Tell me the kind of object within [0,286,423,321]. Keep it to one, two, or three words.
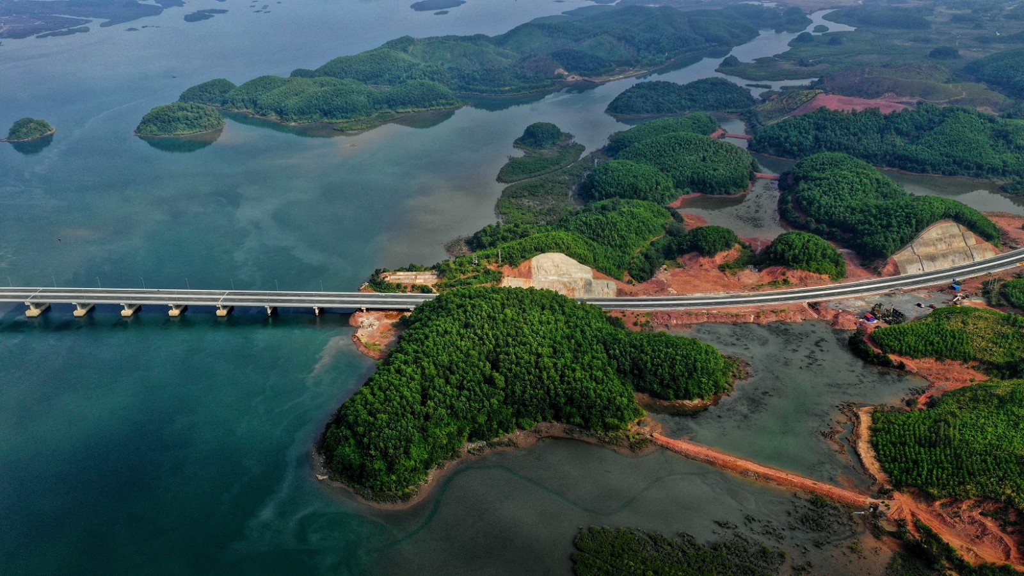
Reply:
bridge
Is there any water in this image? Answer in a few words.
Yes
